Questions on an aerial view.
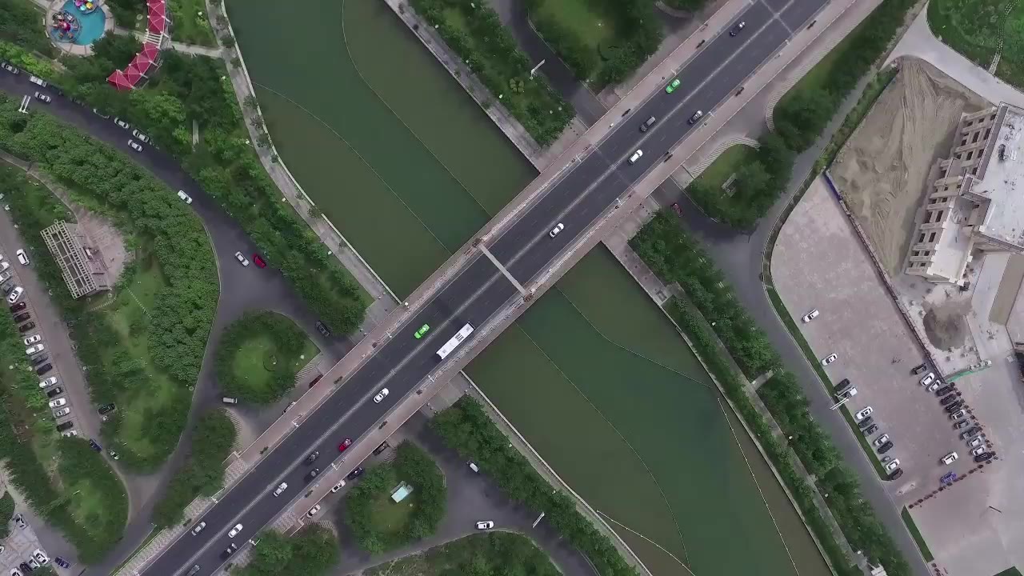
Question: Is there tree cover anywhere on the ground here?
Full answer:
Yes, there's tree cover in this view.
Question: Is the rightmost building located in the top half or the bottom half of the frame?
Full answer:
The top half of the photo is where the rightmost building is.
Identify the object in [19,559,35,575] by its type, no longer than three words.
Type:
car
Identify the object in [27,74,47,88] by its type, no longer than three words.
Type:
vehicle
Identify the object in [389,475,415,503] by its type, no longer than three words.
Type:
shed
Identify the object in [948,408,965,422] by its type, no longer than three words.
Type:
car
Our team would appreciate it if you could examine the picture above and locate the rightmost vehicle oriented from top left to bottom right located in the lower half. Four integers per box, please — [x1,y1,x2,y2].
[464,459,481,474]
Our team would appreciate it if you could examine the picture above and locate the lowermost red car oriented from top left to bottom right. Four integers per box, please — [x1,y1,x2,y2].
[252,253,267,269]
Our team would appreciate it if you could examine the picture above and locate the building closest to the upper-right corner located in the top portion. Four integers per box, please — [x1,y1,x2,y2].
[901,101,1024,285]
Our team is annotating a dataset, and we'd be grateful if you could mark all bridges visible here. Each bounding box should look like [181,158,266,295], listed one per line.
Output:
[110,0,858,576]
